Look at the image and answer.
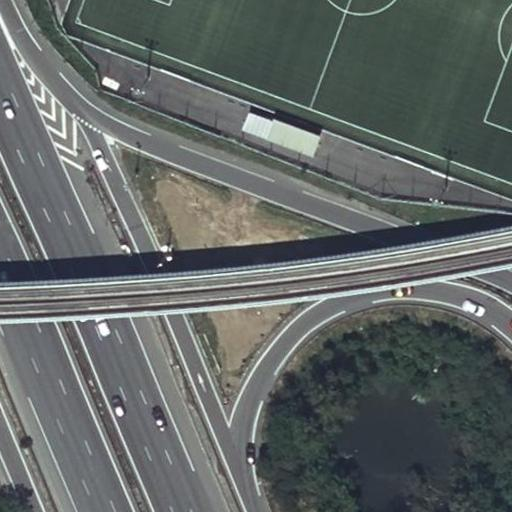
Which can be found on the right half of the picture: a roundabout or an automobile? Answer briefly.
automobile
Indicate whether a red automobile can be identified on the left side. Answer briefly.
No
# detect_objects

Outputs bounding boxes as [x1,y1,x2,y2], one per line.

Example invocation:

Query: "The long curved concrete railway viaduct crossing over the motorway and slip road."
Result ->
[0,226,512,323]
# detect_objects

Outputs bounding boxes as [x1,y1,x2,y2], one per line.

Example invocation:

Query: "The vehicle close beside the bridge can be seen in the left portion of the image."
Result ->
[96,319,111,338]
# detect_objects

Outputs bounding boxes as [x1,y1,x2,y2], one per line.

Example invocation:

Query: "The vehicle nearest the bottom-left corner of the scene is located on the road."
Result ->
[112,396,125,417]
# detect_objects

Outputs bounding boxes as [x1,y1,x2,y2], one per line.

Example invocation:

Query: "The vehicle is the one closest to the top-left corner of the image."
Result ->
[2,99,16,120]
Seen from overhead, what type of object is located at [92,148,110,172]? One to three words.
car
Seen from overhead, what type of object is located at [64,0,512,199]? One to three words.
soccer field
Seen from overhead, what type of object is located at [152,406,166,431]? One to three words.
car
